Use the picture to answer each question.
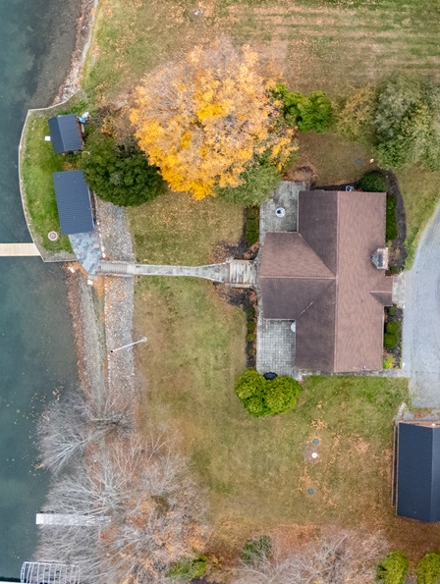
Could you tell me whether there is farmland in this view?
No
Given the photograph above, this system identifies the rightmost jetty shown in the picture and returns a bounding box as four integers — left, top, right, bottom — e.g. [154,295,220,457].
[33,511,113,528]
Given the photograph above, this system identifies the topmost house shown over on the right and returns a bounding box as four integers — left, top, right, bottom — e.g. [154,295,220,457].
[260,190,399,372]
